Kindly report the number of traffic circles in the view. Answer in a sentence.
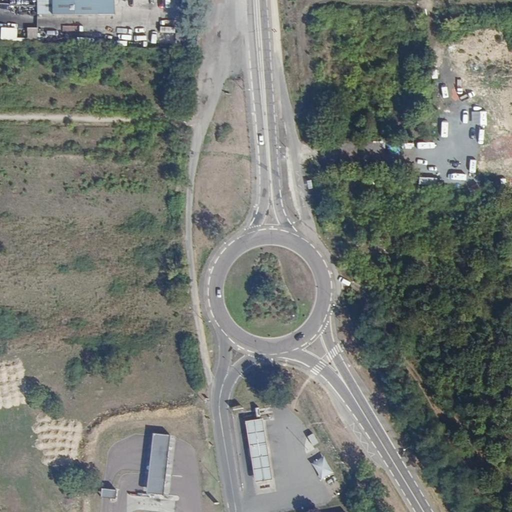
There is 1 traffic circle in the image.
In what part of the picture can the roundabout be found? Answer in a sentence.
The roundabout is located in the center region of the scene.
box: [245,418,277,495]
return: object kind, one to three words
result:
building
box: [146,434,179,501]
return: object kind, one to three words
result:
building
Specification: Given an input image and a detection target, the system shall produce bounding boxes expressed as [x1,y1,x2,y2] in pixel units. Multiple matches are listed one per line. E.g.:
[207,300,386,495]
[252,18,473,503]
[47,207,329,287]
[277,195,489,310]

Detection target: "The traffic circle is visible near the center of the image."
[208,228,333,354]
